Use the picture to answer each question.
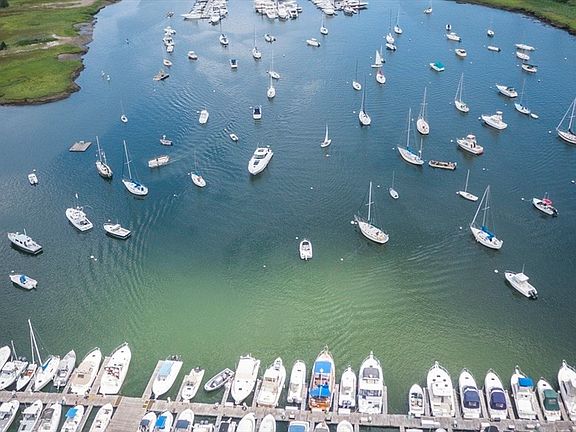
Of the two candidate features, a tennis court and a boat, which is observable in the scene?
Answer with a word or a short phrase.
boat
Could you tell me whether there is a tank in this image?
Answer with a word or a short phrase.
No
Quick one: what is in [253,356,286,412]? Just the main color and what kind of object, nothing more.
white boat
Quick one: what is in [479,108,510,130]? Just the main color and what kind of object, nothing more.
white boat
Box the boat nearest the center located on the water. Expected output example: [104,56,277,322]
[298,238,312,260]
